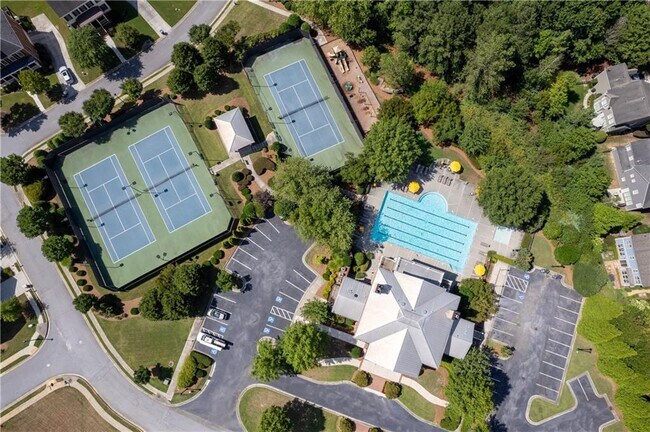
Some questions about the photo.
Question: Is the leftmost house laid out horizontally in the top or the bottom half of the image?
top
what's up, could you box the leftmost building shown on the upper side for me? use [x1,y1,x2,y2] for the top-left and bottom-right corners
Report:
[0,10,44,99]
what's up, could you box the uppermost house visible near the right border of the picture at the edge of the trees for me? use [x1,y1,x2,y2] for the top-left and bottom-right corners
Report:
[588,63,650,132]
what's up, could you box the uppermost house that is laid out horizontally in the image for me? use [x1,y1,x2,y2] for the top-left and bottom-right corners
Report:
[46,0,112,32]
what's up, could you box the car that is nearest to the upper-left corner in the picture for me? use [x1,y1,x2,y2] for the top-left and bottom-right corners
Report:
[58,66,72,84]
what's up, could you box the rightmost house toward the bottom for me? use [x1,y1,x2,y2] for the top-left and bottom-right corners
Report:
[615,232,650,289]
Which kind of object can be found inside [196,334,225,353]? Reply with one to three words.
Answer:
vehicle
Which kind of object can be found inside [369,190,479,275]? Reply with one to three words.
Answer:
swimming pool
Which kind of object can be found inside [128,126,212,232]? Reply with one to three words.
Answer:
tennis court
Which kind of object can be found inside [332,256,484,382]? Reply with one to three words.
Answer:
building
